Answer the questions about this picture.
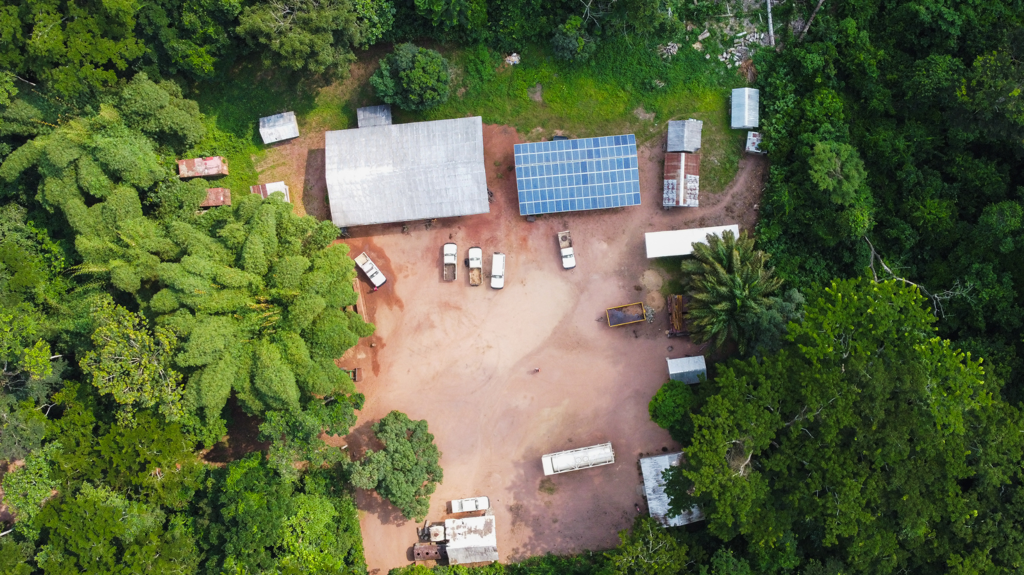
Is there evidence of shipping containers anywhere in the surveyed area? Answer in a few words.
Yes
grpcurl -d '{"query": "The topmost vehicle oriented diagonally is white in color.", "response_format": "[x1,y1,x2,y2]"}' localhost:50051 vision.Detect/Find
[355,251,386,288]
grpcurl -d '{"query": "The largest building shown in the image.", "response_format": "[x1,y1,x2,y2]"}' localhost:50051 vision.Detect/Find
[325,116,490,226]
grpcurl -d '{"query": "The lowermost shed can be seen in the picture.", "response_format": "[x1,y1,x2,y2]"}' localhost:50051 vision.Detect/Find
[445,514,498,565]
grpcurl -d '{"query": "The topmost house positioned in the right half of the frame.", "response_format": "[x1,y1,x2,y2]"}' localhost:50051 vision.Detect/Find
[729,87,759,128]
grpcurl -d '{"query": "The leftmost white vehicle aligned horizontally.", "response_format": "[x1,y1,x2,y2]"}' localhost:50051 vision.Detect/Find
[450,495,491,513]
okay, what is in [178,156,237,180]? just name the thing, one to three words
building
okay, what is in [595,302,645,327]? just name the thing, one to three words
trailer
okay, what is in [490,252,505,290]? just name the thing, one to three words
car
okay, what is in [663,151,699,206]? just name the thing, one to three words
house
